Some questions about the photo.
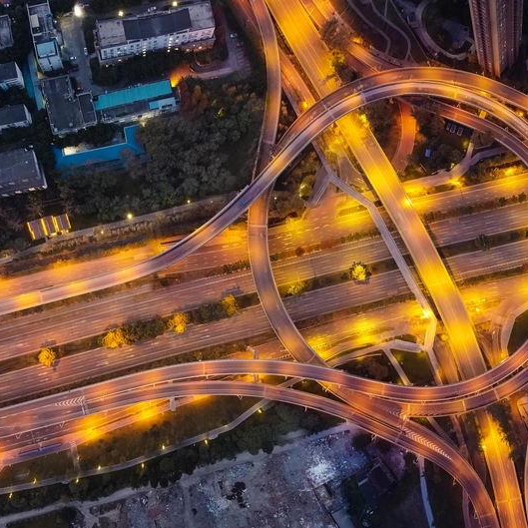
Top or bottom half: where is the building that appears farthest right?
top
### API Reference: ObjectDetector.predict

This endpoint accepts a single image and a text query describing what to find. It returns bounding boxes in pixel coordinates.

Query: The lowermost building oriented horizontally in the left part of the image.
[27,215,74,240]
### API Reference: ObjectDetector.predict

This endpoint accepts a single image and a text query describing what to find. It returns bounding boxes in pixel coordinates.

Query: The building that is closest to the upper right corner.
[475,0,523,75]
